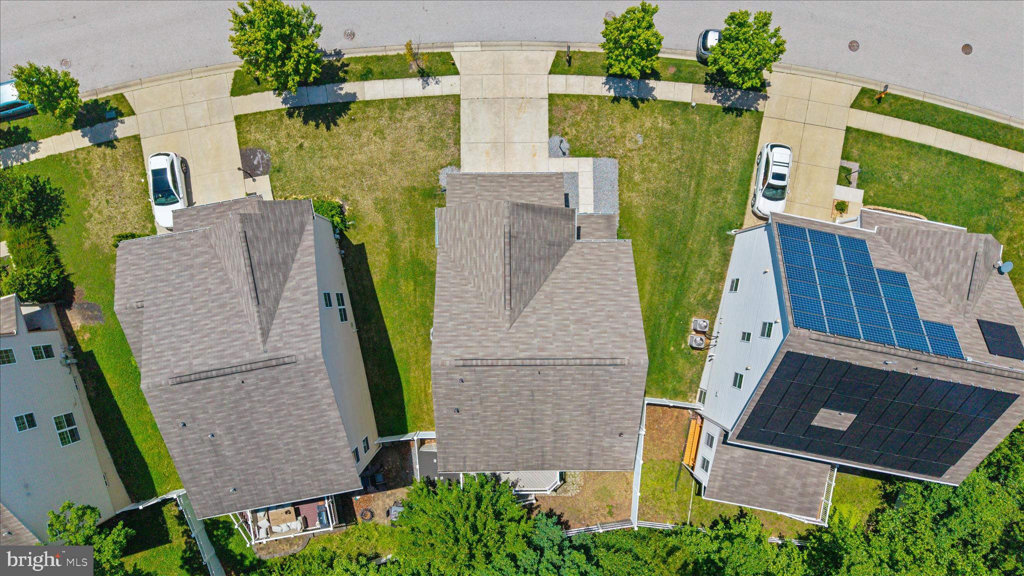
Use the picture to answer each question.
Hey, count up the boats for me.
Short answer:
0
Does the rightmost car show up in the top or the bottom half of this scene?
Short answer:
top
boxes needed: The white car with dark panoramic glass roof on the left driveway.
[150,152,192,231]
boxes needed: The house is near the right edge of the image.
[690,205,1024,522]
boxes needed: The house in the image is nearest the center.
[431,171,648,474]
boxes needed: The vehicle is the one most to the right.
[750,143,796,215]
